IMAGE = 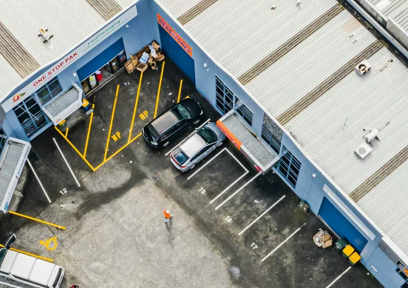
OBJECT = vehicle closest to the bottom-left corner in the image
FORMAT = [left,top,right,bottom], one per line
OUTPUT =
[0,236,63,288]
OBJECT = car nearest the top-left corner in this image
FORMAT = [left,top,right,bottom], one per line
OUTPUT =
[142,101,205,151]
